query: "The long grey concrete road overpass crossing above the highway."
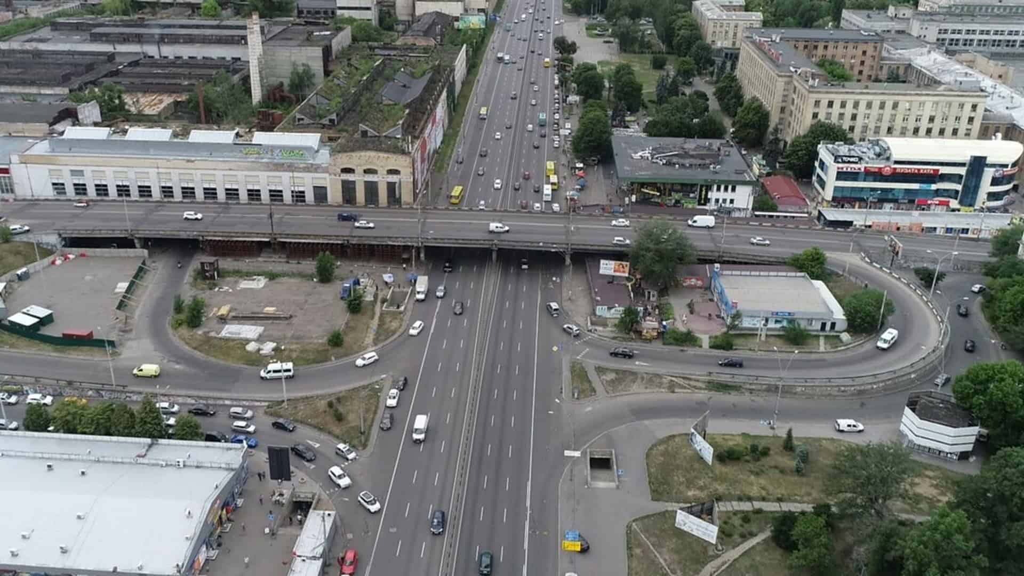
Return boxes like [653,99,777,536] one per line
[0,198,1000,276]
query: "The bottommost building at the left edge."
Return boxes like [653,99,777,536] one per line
[0,431,249,576]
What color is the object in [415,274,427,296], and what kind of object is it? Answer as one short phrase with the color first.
white vehicle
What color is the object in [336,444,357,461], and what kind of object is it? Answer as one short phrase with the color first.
white car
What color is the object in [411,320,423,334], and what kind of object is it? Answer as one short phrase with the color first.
white vehicle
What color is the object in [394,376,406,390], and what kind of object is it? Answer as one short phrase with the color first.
gray vehicle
